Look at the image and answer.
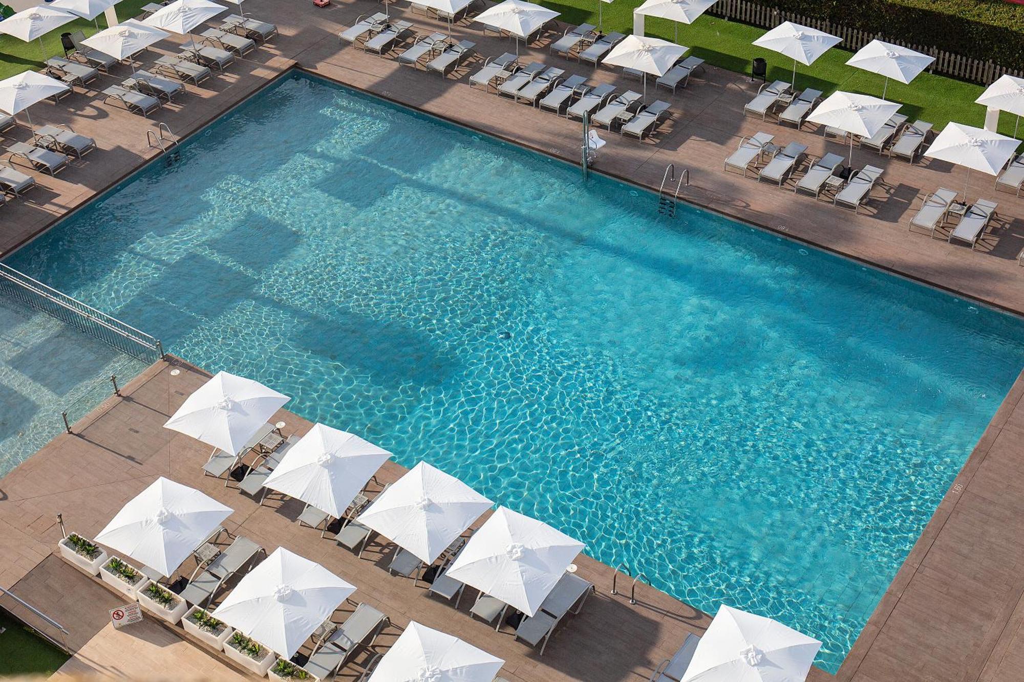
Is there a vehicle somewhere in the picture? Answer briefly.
No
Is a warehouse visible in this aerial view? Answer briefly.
No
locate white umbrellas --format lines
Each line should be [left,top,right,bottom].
[923,121,1020,206]
[472,0,560,72]
[680,605,824,682]
[970,74,1024,136]
[807,89,900,173]
[354,464,493,583]
[751,20,842,99]
[94,478,235,595]
[637,0,720,43]
[602,33,690,110]
[48,0,128,32]
[0,68,68,145]
[415,0,472,48]
[79,18,170,92]
[137,0,225,64]
[366,622,505,682]
[163,373,292,480]
[210,549,358,666]
[0,1,78,75]
[844,39,936,102]
[262,425,394,537]
[444,510,585,632]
